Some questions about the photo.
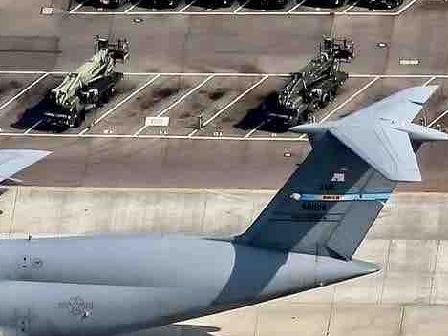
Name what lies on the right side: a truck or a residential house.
truck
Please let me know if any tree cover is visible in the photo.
No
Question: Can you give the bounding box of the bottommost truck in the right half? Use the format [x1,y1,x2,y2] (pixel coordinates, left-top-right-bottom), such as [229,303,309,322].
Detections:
[272,31,350,134]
